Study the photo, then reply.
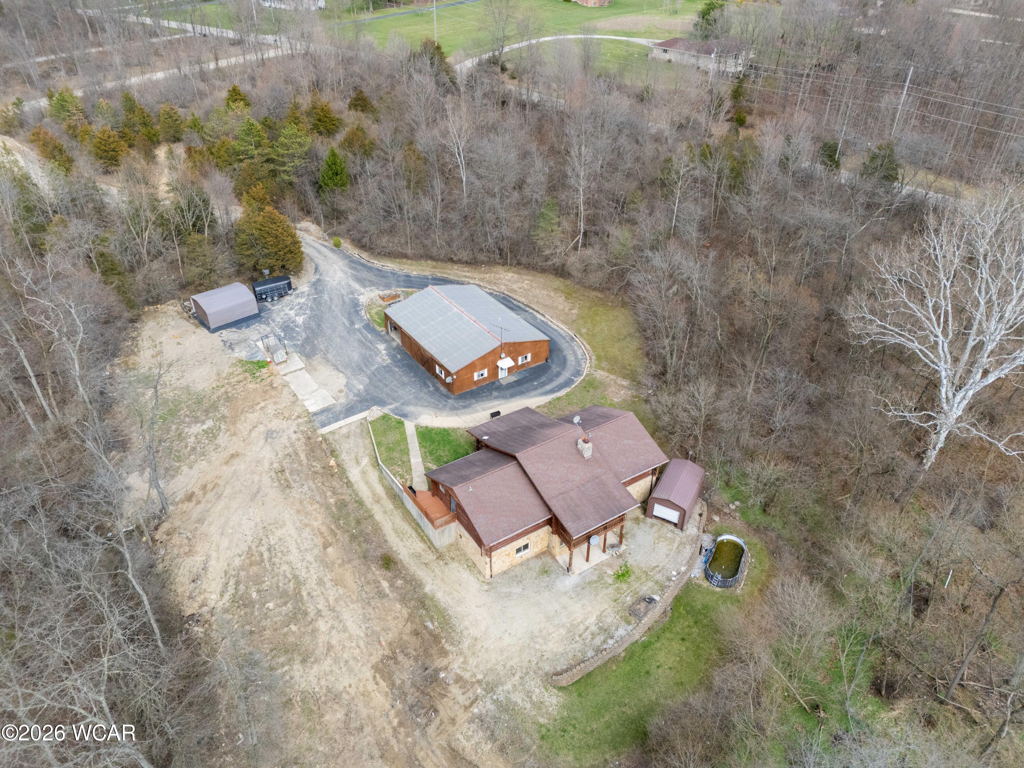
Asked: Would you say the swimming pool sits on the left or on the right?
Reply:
right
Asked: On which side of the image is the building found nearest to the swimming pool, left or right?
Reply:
right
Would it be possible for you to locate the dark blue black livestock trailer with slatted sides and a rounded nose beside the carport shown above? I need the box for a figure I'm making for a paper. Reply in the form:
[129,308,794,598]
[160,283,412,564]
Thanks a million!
[250,276,294,301]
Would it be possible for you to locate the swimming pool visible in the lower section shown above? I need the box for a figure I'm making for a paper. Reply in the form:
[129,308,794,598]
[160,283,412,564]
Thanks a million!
[703,533,751,589]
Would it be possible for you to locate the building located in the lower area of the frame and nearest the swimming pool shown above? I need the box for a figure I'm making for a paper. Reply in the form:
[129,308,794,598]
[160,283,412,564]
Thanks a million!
[647,456,709,530]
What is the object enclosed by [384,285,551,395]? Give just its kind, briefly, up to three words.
building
